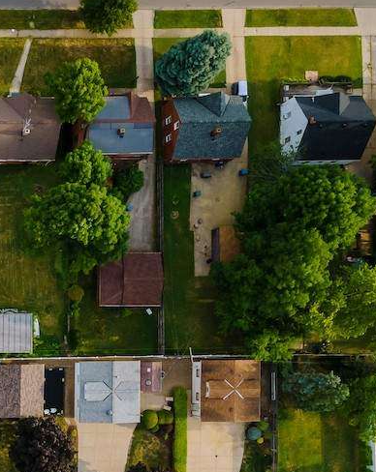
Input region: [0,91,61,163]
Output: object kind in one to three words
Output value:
house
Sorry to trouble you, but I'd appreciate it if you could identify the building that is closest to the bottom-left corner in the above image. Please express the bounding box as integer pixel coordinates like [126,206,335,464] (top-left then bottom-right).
[0,363,44,419]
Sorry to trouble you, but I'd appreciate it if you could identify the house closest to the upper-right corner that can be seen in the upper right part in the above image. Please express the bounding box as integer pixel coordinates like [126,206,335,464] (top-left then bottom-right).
[279,92,376,166]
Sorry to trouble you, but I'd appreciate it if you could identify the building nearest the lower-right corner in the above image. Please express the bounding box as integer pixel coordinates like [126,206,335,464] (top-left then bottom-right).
[193,361,261,422]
